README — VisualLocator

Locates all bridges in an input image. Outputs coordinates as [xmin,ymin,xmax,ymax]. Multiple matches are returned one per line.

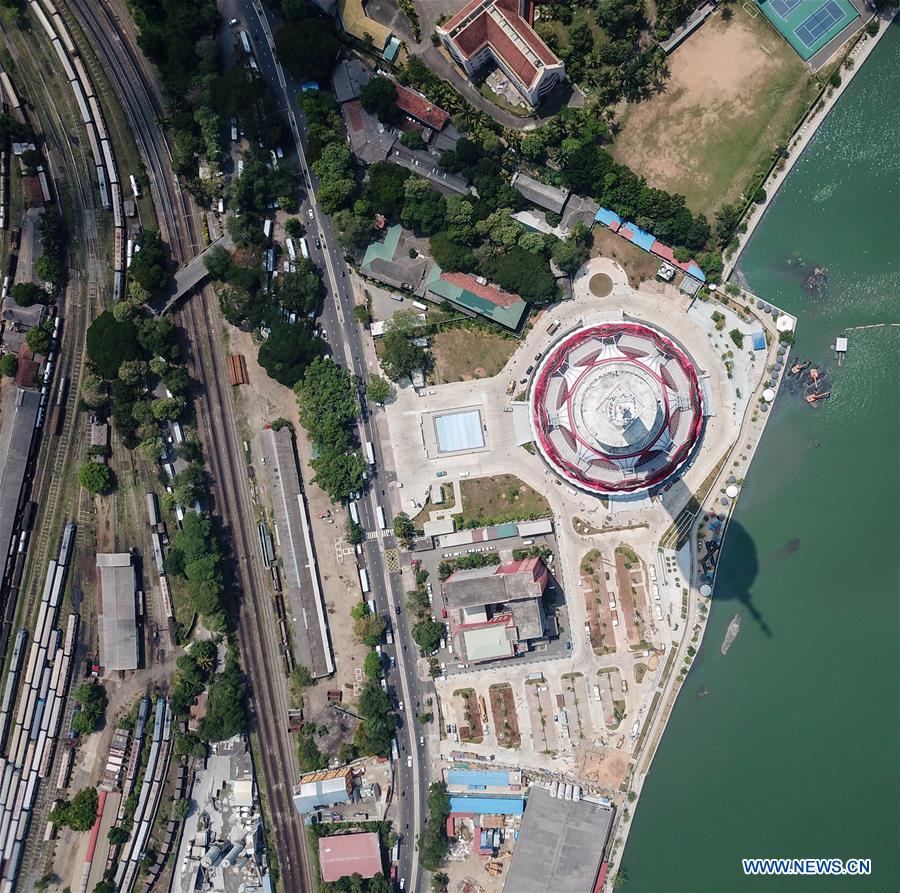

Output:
[164,234,228,302]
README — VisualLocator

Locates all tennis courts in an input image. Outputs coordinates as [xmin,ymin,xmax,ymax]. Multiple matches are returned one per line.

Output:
[768,0,804,18]
[758,0,860,61]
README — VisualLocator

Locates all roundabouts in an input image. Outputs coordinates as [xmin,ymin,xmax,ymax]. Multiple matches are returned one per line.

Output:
[570,253,633,316]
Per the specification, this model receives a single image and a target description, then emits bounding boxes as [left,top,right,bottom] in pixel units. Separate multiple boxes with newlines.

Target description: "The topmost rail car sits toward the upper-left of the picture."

[97,166,113,210]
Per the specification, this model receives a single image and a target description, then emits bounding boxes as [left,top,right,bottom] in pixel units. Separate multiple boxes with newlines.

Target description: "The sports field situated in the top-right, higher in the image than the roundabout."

[613,0,813,221]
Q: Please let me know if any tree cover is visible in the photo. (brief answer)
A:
Yes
